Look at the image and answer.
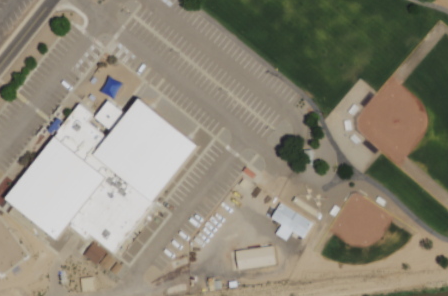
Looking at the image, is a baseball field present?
Yes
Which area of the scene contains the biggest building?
left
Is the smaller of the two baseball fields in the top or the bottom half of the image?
bottom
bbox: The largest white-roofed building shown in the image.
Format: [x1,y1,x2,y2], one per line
[5,98,198,254]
